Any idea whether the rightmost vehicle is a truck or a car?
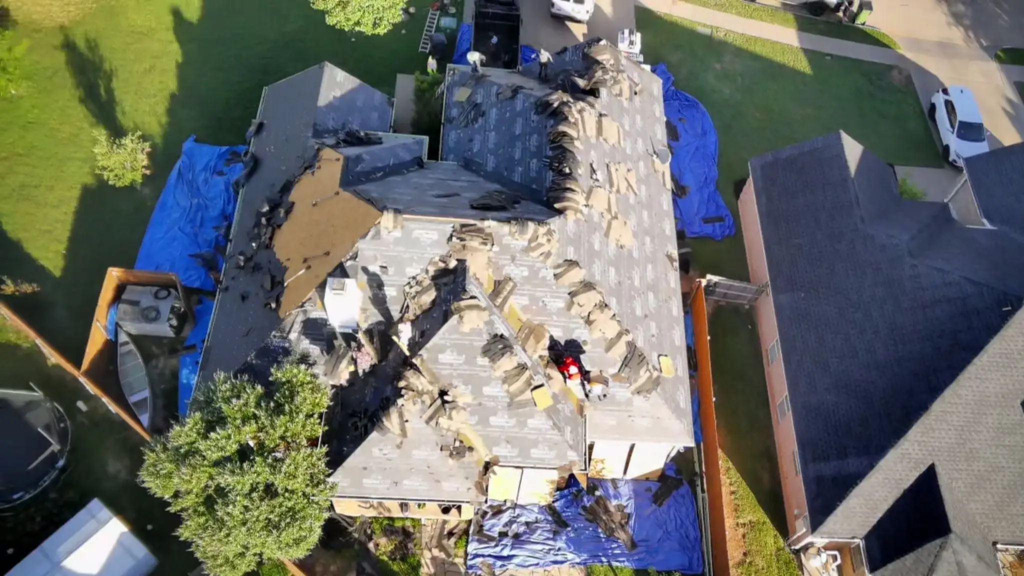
car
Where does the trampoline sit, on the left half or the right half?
left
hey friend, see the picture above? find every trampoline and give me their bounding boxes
[0,374,89,513]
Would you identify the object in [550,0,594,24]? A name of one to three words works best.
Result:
vehicle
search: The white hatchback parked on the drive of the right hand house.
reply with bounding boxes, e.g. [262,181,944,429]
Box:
[924,77,1002,173]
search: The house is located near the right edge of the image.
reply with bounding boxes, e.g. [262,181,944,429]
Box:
[741,127,1024,576]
